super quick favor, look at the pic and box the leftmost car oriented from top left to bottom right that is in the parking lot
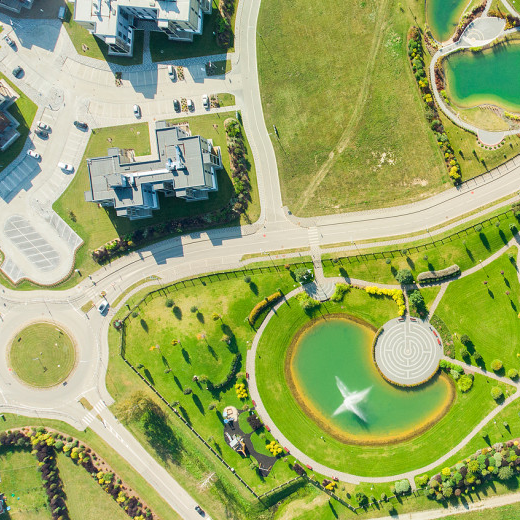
[1,34,17,47]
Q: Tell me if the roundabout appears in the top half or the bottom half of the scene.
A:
bottom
